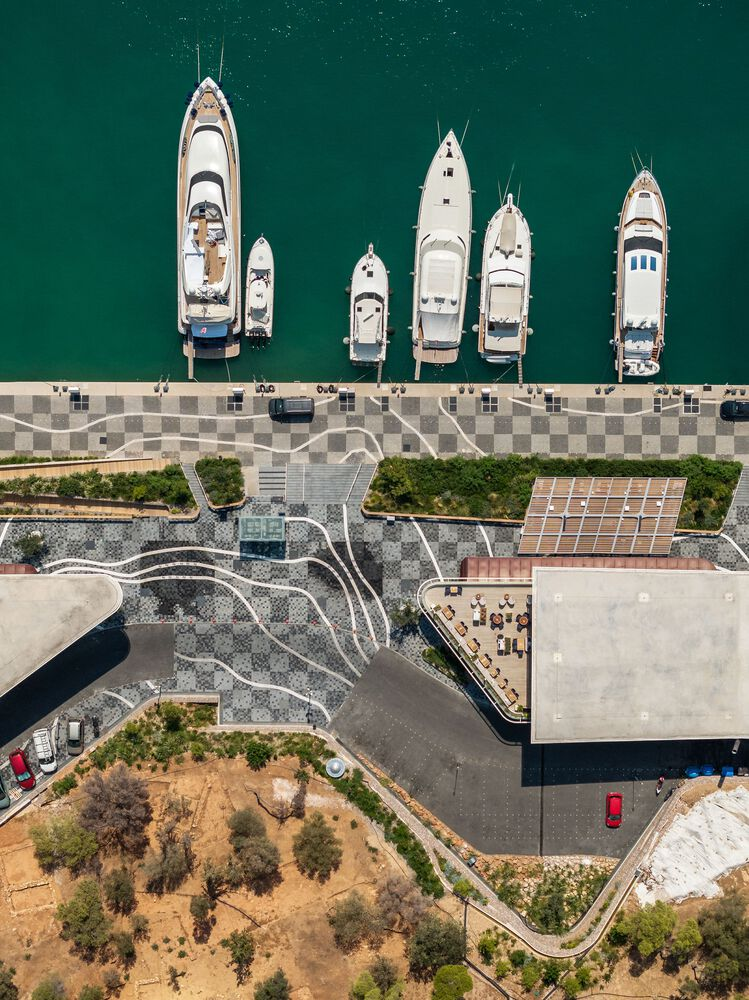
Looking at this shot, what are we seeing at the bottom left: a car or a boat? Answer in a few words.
car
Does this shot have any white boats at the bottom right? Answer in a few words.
No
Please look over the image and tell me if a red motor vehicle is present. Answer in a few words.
Yes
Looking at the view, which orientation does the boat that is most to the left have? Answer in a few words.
up and down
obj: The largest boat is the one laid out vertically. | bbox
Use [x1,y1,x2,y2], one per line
[178,38,241,383]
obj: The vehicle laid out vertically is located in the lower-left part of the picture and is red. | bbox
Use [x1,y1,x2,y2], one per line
[8,748,33,790]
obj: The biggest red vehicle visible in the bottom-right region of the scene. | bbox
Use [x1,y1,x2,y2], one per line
[603,792,625,829]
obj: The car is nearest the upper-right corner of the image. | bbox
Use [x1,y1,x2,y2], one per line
[722,399,749,421]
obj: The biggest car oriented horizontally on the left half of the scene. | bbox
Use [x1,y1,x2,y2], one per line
[268,397,313,419]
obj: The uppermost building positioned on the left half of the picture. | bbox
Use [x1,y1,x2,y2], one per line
[240,516,286,542]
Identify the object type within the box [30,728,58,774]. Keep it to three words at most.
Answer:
vehicle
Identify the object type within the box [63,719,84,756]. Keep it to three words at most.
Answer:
car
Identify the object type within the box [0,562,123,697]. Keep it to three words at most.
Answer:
building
